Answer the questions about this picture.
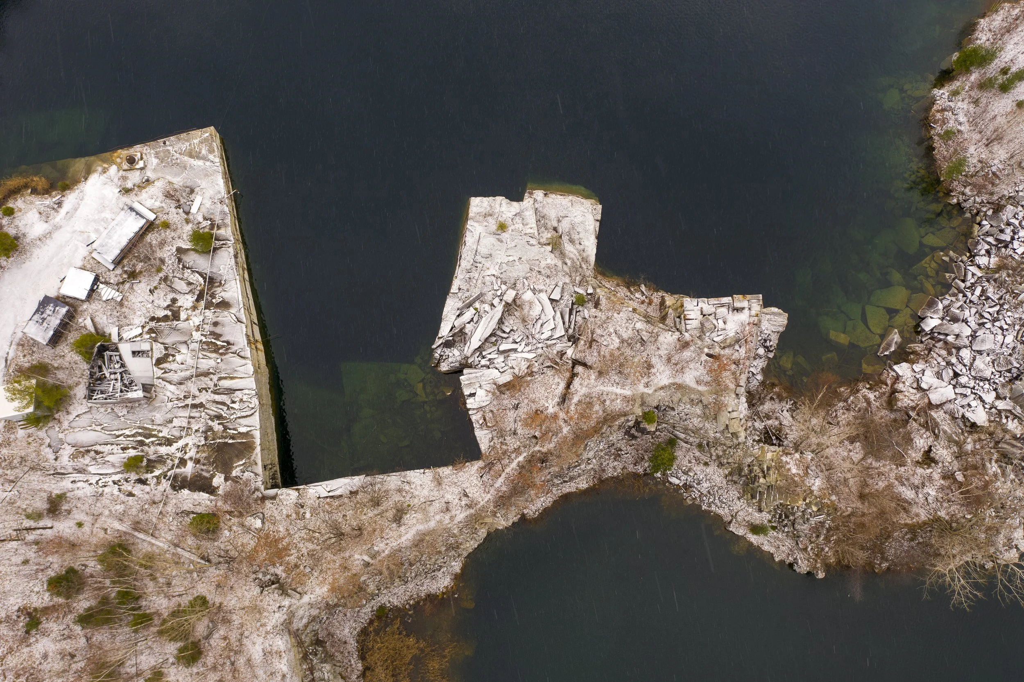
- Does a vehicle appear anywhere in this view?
No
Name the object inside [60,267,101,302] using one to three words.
shed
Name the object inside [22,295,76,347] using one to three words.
shed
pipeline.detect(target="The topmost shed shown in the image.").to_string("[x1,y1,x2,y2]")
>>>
[90,201,161,271]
